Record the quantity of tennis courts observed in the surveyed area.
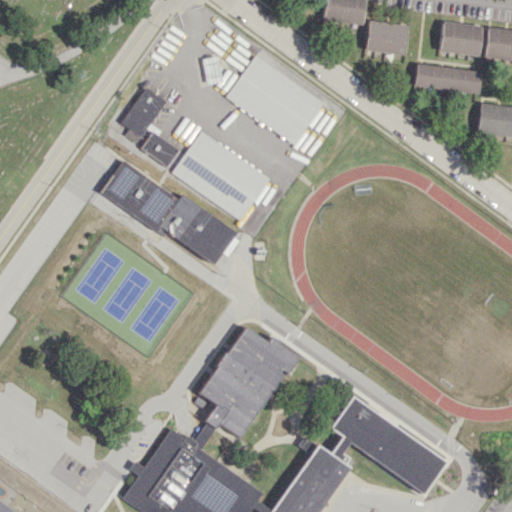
3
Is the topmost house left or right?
right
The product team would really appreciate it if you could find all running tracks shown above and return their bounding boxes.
[288,164,512,422]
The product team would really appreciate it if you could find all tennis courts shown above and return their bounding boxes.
[121,274,192,356]
[94,256,164,336]
[62,234,136,317]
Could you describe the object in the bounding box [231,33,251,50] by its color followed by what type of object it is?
white vehicle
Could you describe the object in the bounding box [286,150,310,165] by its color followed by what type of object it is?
white vehicle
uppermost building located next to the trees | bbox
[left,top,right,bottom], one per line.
[324,0,369,28]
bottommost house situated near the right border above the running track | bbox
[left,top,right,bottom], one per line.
[478,102,512,138]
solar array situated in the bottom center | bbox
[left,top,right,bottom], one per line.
[193,474,238,512]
